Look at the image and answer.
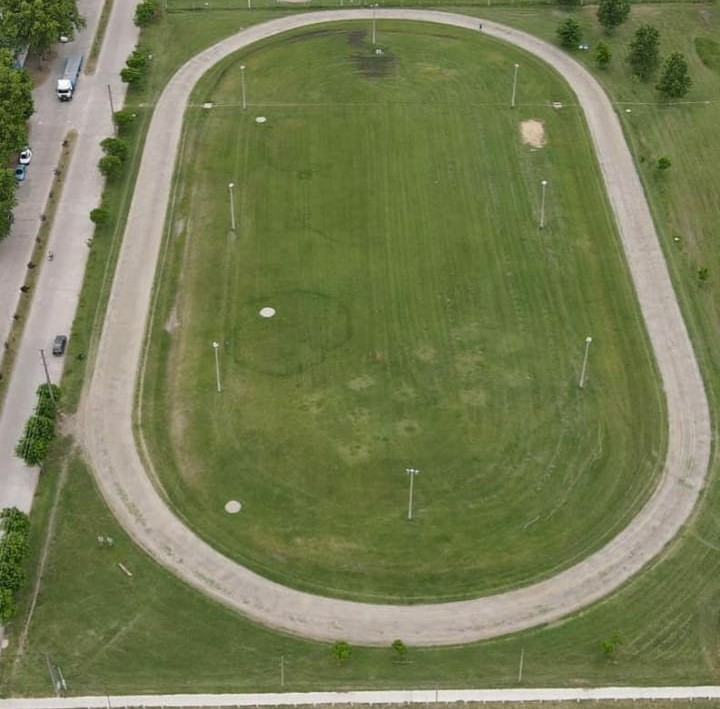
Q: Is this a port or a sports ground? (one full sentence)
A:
This image shows a sports ground.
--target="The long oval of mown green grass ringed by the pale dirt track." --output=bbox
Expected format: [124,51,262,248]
[131,19,669,605]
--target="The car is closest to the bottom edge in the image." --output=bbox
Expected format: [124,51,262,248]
[52,336,66,356]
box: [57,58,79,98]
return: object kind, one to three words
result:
truck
